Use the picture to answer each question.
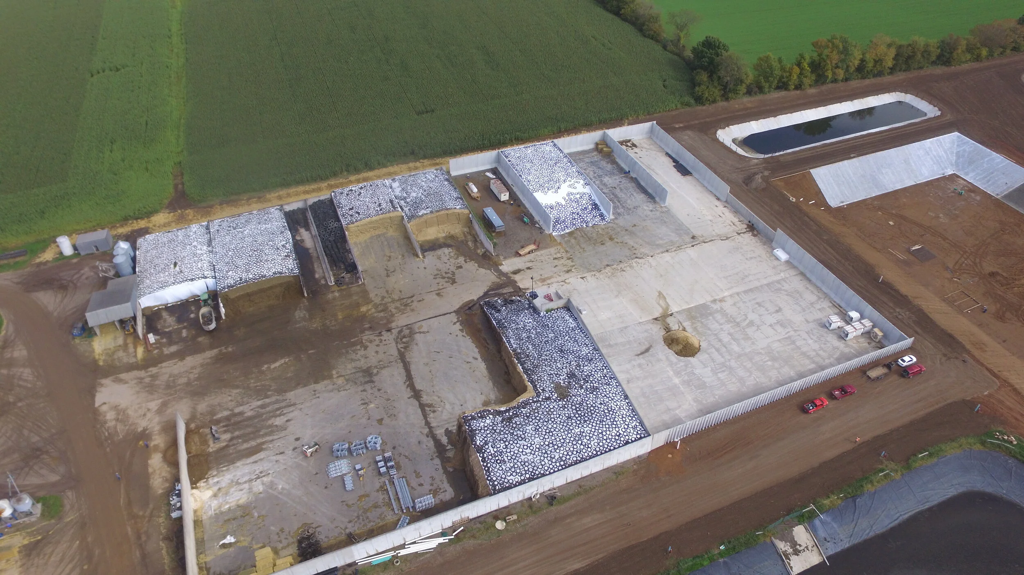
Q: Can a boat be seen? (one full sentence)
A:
No, I can see no boat in this picture.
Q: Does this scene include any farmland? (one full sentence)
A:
Yes, farmland shows up in the scene.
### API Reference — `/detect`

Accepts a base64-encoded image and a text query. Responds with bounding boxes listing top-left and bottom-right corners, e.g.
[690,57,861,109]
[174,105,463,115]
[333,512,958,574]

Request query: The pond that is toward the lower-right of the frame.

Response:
[681,446,1024,575]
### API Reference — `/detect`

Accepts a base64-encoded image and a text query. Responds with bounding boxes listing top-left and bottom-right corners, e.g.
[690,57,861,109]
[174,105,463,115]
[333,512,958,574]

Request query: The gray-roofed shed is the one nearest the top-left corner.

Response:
[75,227,110,255]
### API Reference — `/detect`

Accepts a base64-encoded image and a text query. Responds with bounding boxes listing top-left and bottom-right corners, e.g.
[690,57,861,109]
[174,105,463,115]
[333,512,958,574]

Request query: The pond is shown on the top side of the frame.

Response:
[717,91,945,158]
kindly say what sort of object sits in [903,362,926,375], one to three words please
vehicle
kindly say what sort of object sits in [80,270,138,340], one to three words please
shed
